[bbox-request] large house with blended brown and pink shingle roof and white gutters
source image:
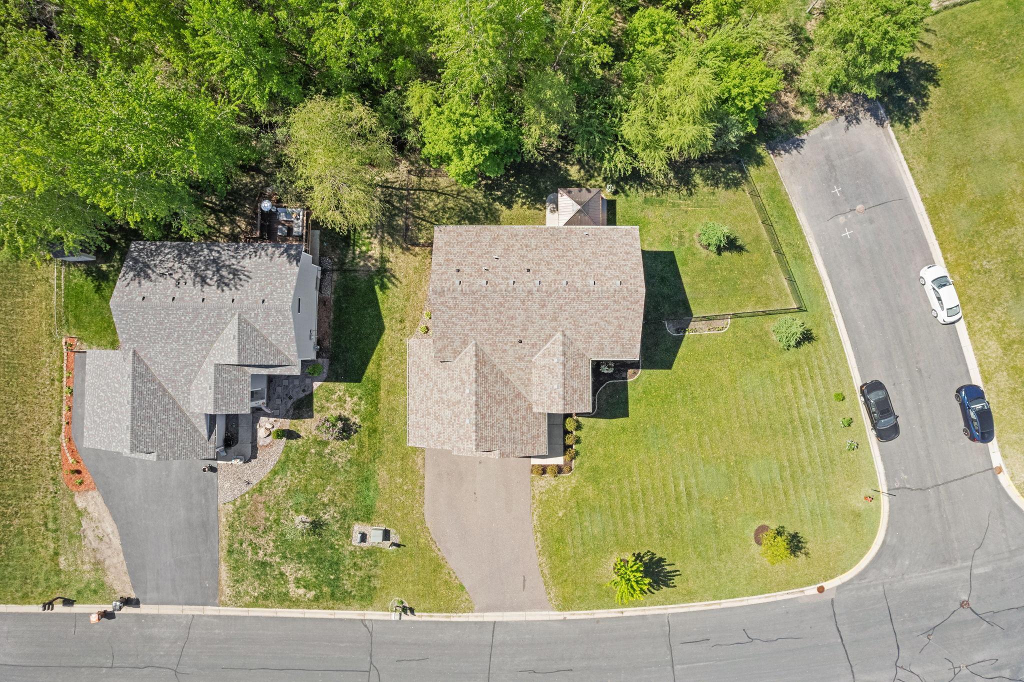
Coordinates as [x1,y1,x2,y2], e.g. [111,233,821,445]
[406,224,645,459]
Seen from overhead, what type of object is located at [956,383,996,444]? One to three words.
car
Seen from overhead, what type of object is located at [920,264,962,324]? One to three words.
car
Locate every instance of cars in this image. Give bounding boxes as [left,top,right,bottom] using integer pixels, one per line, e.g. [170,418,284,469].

[956,383,996,444]
[861,381,900,442]
[920,264,962,324]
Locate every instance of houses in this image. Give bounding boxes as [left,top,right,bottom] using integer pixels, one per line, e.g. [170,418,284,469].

[406,224,645,459]
[84,242,321,460]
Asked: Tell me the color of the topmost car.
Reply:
white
